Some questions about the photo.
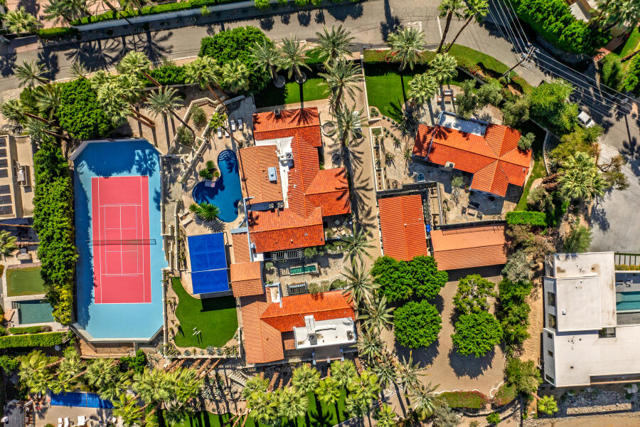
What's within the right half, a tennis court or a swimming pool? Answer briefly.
swimming pool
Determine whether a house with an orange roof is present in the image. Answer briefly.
Yes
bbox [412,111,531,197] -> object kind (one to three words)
house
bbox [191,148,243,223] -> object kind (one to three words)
swimming pool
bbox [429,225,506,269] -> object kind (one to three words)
shed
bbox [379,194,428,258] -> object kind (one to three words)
building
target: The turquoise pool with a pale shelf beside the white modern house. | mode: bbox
[616,288,640,312]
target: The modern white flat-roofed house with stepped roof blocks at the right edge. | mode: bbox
[542,250,640,387]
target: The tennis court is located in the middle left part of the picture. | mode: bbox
[75,139,166,340]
